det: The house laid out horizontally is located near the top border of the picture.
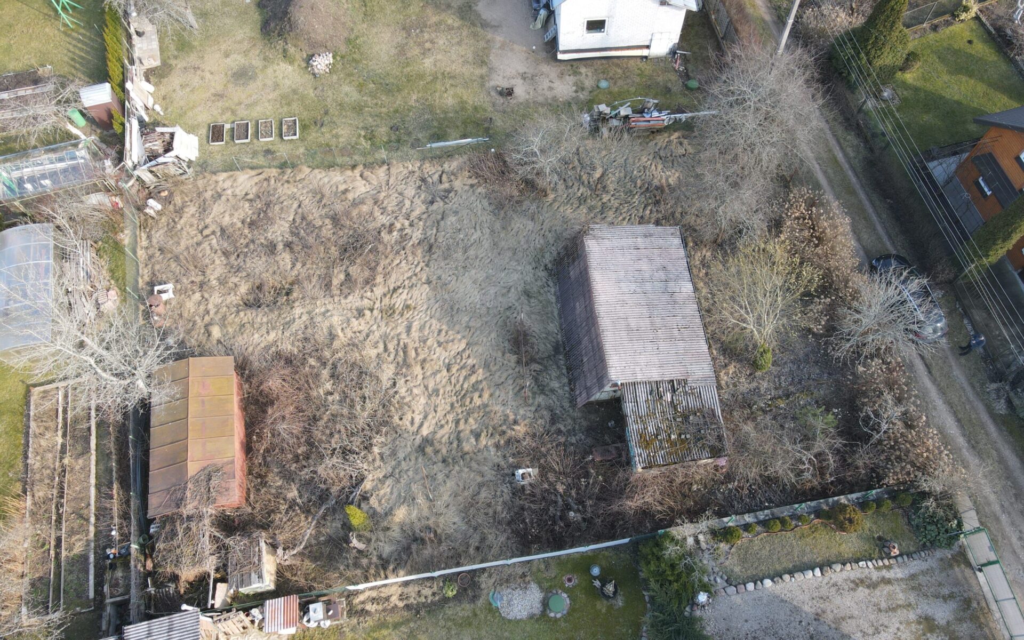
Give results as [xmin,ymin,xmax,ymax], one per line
[549,0,691,60]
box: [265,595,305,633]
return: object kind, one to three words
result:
shed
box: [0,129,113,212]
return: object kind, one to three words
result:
greenhouse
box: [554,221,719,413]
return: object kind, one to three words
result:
house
